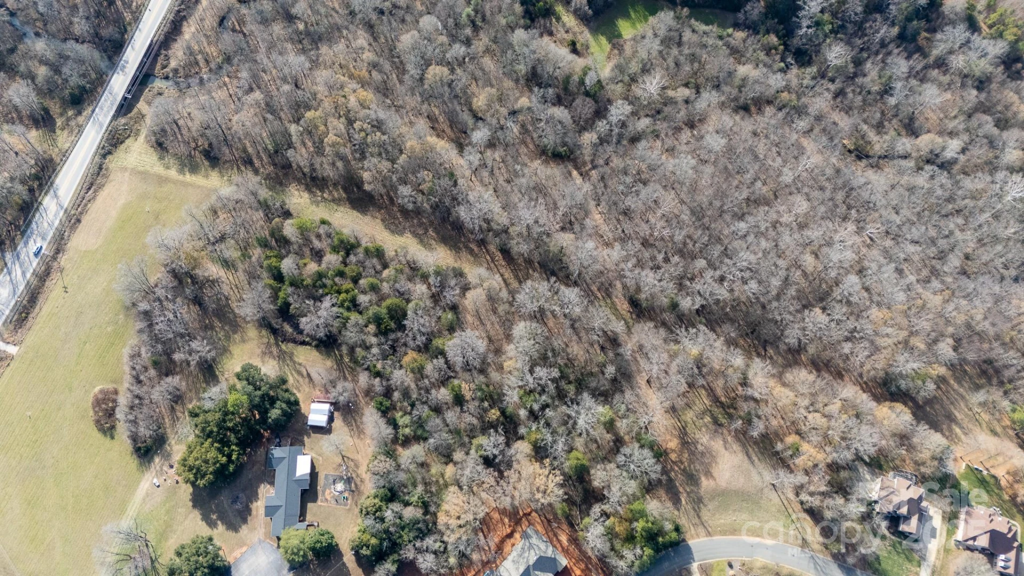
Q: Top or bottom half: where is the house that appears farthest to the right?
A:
bottom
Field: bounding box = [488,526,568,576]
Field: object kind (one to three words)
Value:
house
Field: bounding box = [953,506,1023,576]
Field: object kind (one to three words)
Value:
house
